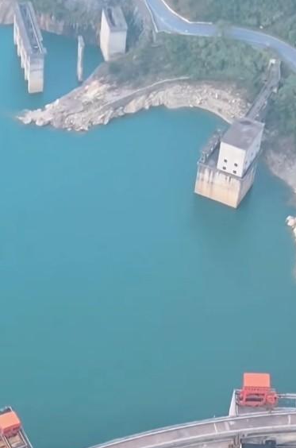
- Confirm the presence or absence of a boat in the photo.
No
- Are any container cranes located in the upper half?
No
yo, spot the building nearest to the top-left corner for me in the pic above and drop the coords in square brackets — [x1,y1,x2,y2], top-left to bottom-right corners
[101,7,127,63]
